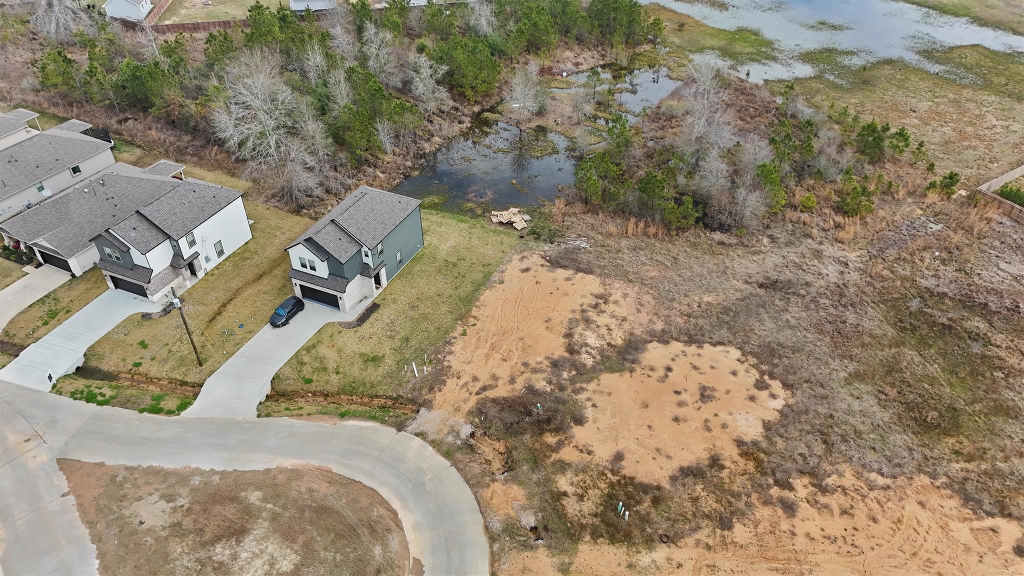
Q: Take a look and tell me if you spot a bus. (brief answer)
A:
No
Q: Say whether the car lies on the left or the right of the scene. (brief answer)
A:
left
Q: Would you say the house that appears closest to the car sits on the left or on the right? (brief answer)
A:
left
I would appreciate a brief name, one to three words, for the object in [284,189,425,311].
house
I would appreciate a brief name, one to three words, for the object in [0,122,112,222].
house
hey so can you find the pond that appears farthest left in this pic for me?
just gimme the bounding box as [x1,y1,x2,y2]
[386,66,686,214]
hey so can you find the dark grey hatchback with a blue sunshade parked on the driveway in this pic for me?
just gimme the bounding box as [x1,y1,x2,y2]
[266,294,306,326]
